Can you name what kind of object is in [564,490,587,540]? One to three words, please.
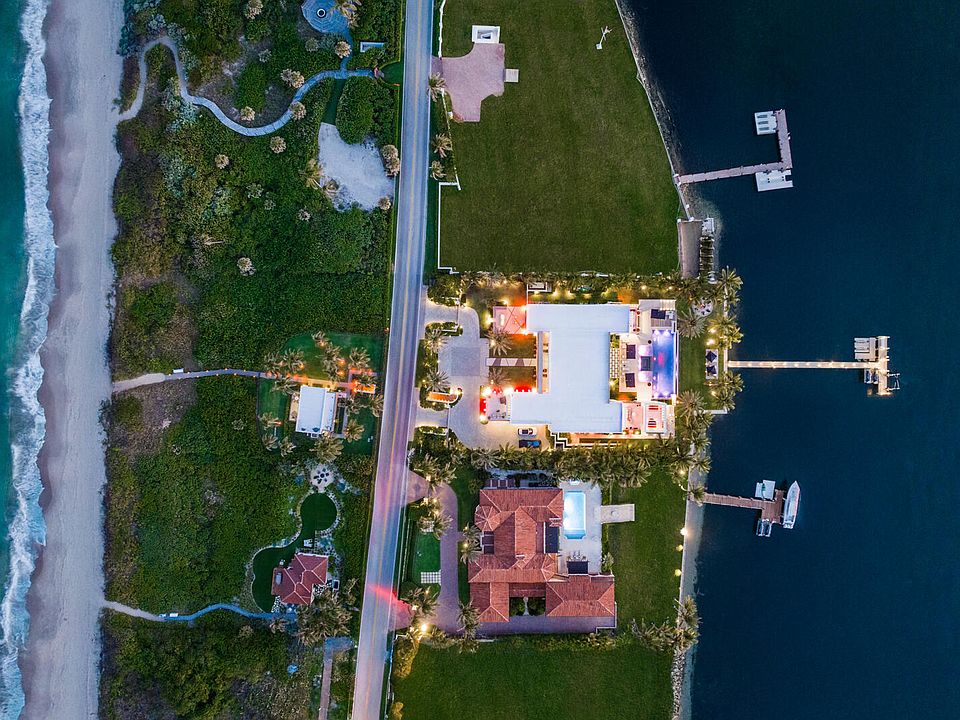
swimming pool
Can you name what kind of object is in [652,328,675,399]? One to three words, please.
swimming pool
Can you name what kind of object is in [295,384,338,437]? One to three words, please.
house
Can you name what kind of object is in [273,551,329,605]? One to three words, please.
building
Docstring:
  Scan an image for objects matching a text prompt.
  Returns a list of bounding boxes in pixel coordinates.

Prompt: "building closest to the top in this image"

[472,25,500,48]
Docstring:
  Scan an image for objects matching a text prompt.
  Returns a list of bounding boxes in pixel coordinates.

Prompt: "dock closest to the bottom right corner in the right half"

[701,488,785,524]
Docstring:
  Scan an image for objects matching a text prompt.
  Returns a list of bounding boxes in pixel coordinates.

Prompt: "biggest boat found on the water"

[782,481,798,530]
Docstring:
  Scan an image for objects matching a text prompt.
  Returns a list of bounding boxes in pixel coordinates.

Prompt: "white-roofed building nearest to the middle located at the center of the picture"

[483,277,631,448]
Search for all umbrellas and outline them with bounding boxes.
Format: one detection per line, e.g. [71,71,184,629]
[625,373,635,387]
[705,351,717,363]
[707,366,716,375]
[651,309,666,319]
[626,344,636,359]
